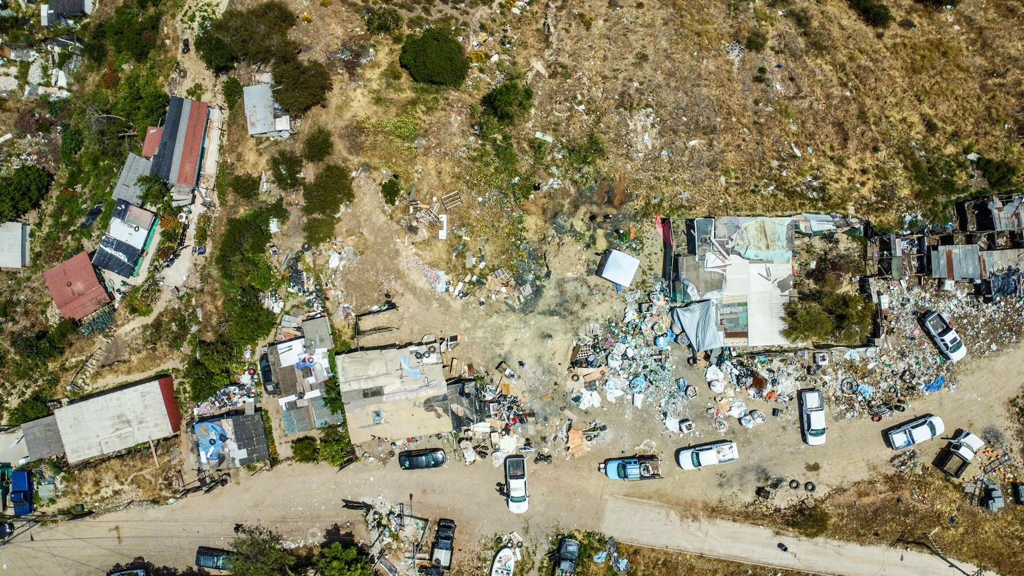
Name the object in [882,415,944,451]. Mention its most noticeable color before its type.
white truck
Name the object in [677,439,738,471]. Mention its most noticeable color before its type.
white truck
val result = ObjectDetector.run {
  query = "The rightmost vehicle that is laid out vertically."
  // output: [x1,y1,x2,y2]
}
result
[798,389,827,445]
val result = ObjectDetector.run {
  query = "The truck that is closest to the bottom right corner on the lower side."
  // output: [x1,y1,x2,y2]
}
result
[937,429,987,487]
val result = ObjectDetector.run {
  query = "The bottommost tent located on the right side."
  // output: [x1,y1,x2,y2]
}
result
[601,249,640,287]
